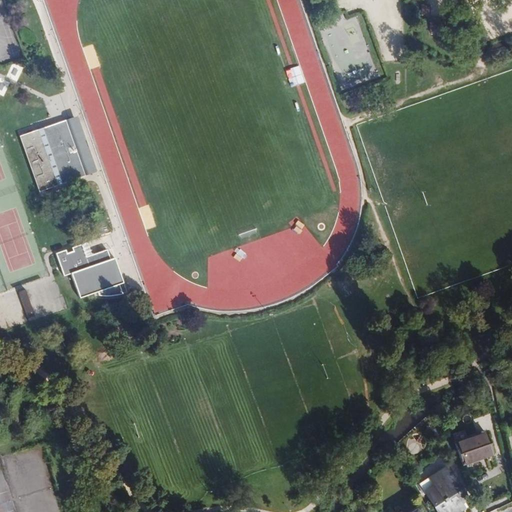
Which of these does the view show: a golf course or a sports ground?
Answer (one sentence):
The picture captures a sports ground.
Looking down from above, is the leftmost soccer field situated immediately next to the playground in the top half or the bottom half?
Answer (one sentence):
Seen from above, the leftmost soccer field situated immediately next to the playground lies in the top half of the view.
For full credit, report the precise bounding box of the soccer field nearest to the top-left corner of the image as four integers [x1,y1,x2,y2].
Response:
[77,0,341,286]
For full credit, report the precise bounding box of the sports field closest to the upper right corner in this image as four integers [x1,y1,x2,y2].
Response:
[357,70,512,296]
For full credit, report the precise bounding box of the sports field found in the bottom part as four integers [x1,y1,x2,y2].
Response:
[82,296,358,500]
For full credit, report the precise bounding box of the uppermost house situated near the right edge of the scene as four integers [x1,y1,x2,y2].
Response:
[454,428,495,468]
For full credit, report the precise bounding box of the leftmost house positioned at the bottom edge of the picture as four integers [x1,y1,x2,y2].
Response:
[416,464,470,512]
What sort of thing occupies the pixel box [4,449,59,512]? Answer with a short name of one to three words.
tennis court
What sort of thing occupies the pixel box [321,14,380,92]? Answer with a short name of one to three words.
playground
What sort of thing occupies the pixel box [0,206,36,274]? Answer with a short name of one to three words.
tennis court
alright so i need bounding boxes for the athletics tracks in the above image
[42,0,363,317]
